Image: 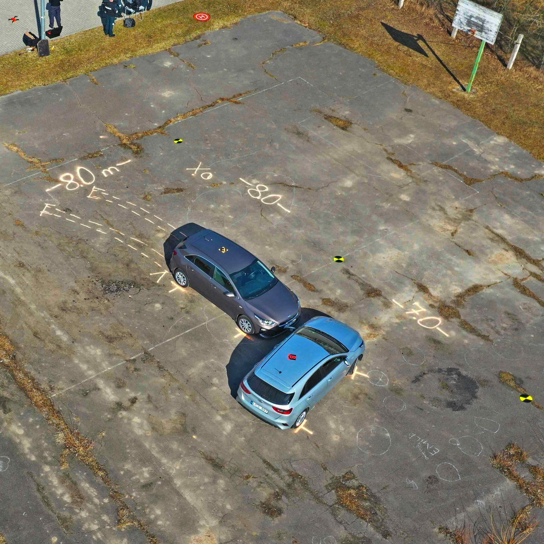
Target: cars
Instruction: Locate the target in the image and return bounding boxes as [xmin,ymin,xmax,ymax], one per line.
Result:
[235,318,364,430]
[170,230,304,336]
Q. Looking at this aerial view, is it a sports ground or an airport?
sports ground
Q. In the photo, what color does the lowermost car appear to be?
blue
